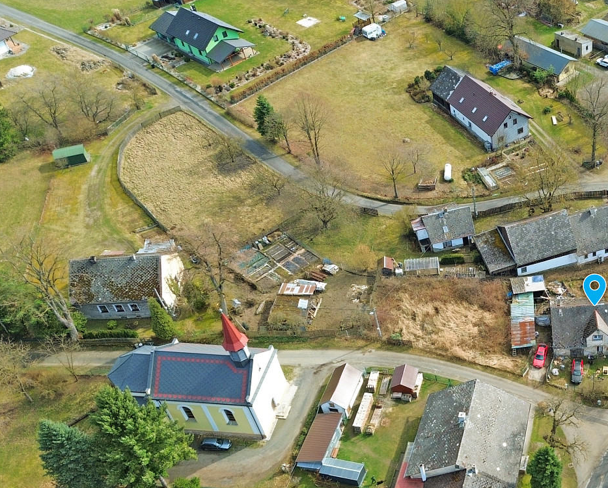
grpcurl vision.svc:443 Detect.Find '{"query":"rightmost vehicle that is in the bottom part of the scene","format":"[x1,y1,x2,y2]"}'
[571,356,584,382]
